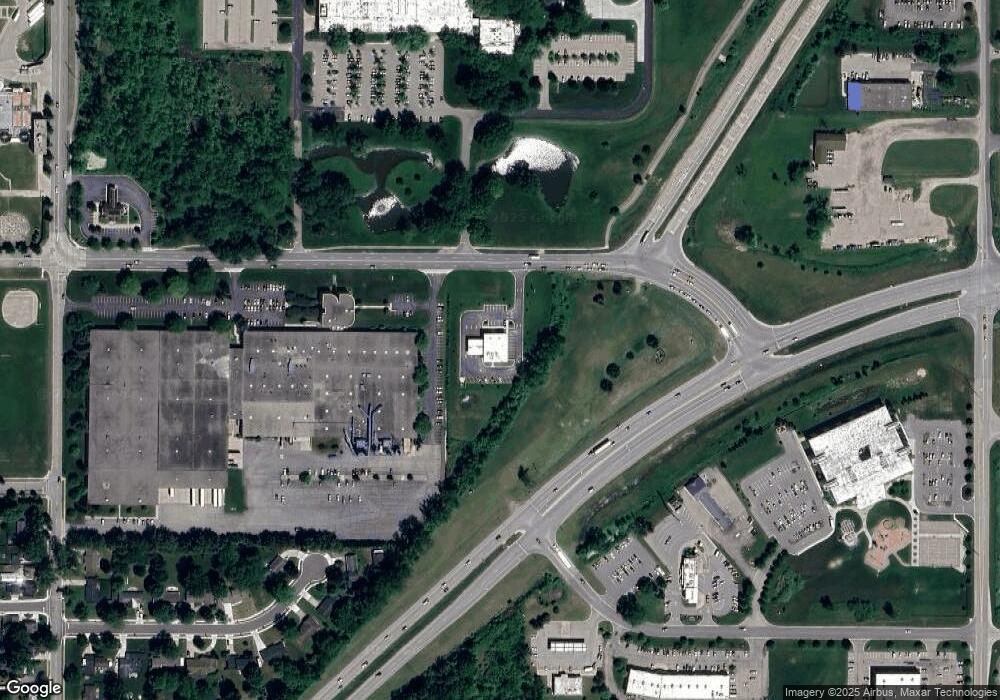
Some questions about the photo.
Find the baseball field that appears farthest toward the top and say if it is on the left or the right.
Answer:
left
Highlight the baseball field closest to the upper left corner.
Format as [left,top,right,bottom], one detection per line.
[0,213,29,241]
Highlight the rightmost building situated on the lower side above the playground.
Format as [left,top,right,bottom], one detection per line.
[810,405,914,510]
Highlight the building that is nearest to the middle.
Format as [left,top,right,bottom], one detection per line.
[469,333,508,362]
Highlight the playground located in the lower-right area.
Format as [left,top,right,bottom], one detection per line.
[866,518,912,572]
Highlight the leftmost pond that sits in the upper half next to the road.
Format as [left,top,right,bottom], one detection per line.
[308,145,434,233]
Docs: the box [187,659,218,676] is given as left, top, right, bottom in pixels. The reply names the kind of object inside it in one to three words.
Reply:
house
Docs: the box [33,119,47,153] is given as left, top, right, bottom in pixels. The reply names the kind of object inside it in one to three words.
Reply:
building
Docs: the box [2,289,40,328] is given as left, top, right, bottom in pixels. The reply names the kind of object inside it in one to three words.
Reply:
baseball field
